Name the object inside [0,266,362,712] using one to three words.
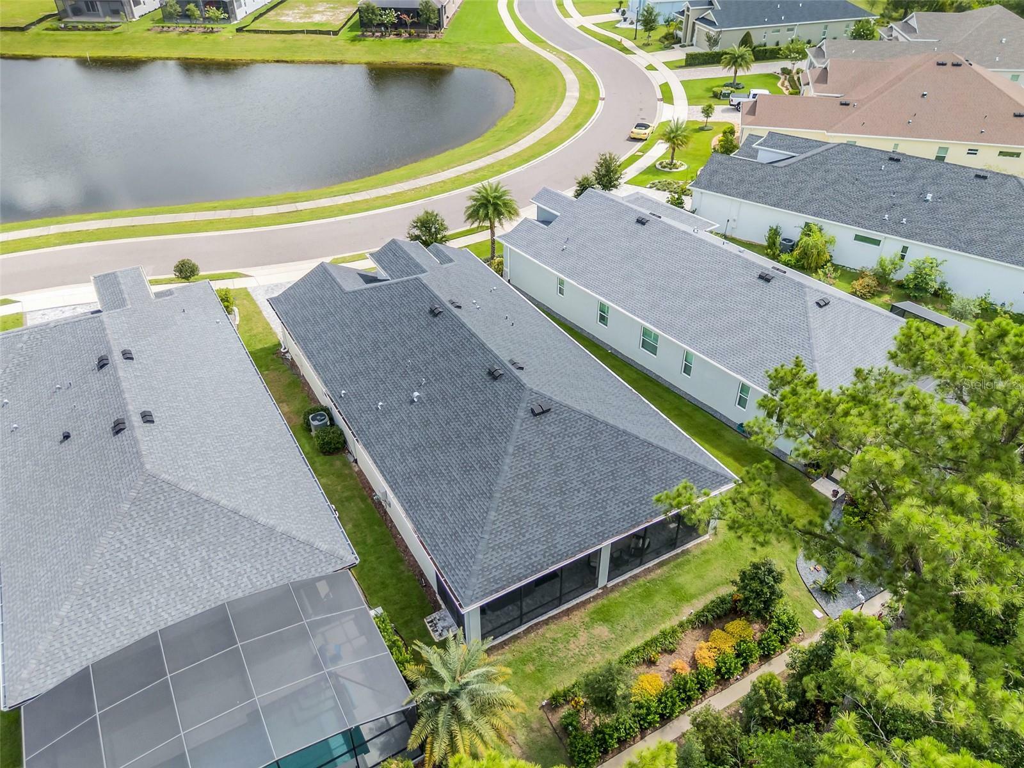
house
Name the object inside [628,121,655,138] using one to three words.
car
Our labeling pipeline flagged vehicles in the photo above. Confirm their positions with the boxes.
[628,121,655,138]
[724,90,764,113]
